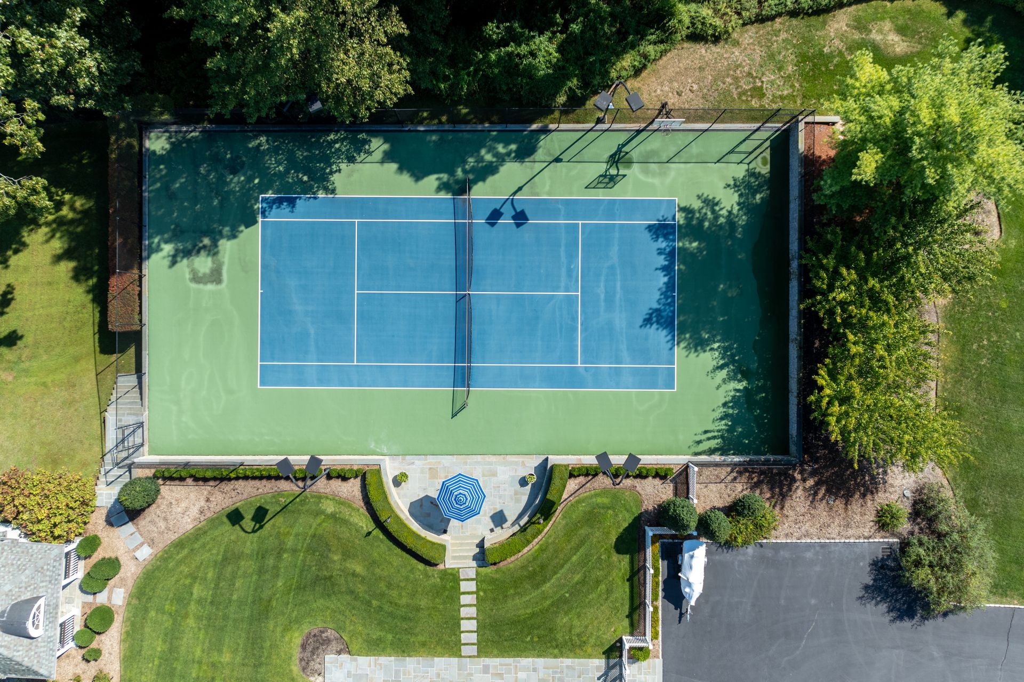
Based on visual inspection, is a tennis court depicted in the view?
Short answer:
Yes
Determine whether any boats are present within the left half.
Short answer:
No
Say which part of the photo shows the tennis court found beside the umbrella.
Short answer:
center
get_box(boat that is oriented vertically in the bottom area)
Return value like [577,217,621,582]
[679,539,705,605]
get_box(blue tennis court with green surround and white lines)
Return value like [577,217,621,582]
[148,131,790,455]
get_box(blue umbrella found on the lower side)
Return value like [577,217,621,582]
[436,472,486,522]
